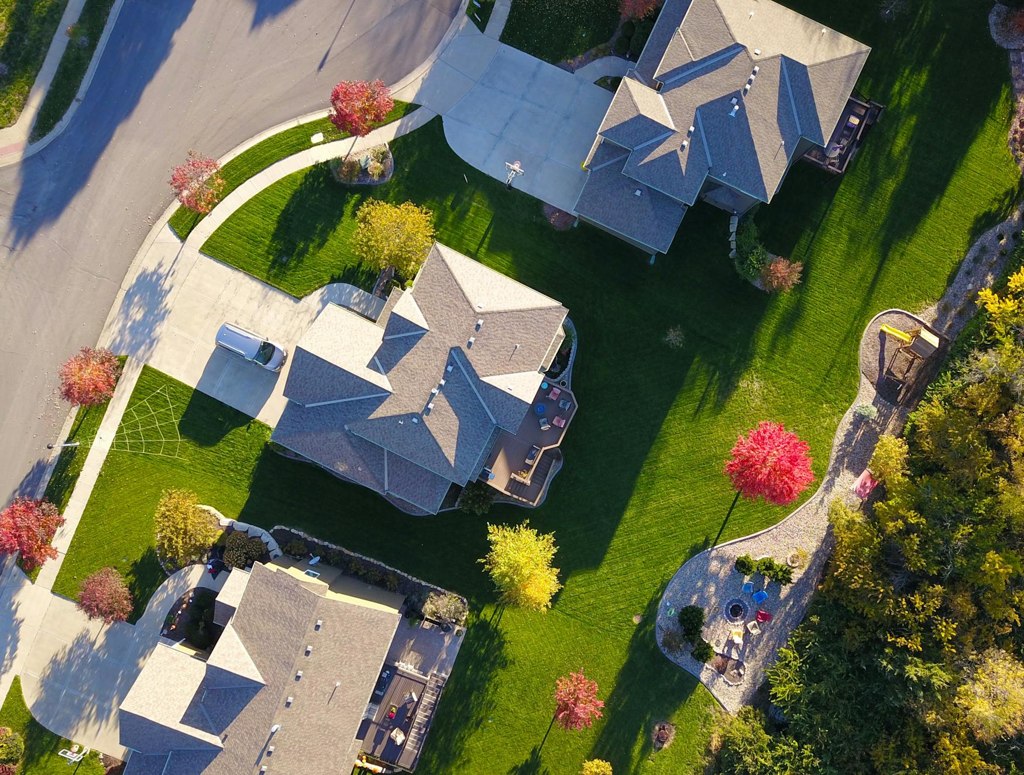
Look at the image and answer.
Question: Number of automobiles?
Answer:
1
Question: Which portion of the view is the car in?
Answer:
left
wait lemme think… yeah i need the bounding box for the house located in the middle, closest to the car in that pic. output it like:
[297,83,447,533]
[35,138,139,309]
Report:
[270,241,571,516]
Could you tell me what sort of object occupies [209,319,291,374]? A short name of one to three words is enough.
car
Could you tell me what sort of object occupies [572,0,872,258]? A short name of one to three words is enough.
house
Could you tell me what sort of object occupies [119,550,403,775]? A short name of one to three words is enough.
house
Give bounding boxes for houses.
[572,0,872,258]
[119,550,403,775]
[270,241,571,516]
